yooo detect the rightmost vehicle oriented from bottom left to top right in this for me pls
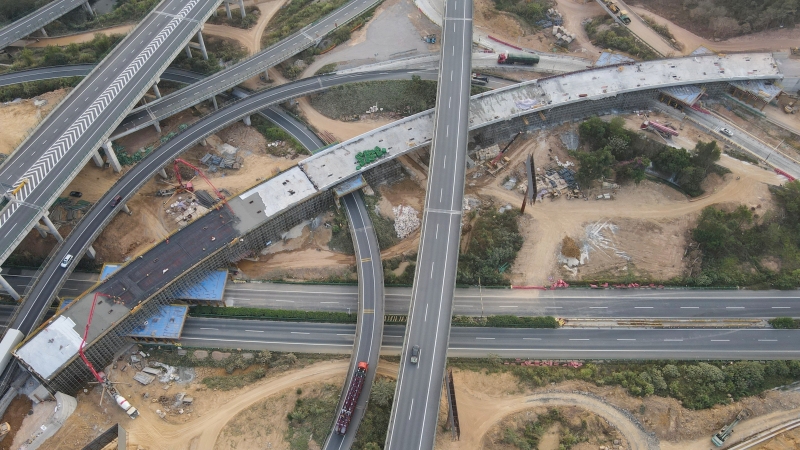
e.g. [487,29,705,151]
[711,415,744,441]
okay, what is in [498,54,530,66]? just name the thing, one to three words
vehicle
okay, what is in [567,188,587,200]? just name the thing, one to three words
vehicle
